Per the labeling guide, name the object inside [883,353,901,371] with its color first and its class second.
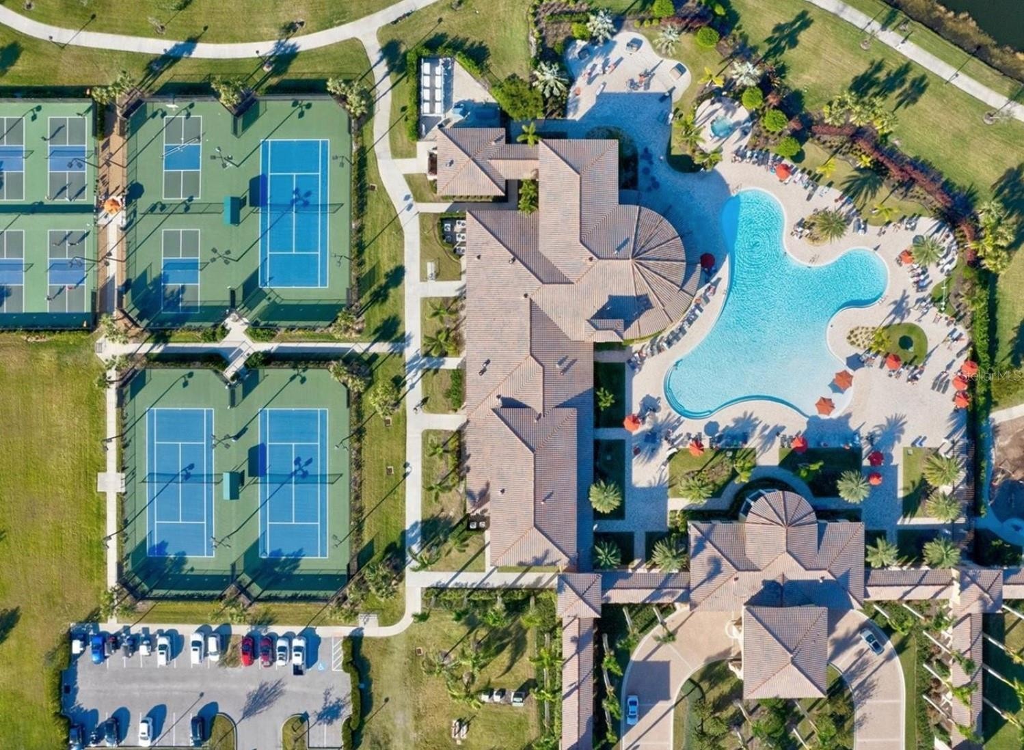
red umbrella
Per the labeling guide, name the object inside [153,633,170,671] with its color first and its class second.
white vehicle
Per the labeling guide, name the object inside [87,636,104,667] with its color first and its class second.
blue car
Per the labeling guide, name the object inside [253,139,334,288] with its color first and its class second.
blue tennis court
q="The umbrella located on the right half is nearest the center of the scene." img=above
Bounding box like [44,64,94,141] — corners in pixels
[623,414,641,432]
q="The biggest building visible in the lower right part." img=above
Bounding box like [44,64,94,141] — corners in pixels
[686,483,865,700]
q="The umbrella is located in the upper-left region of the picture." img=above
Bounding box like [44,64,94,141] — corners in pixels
[105,195,123,212]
